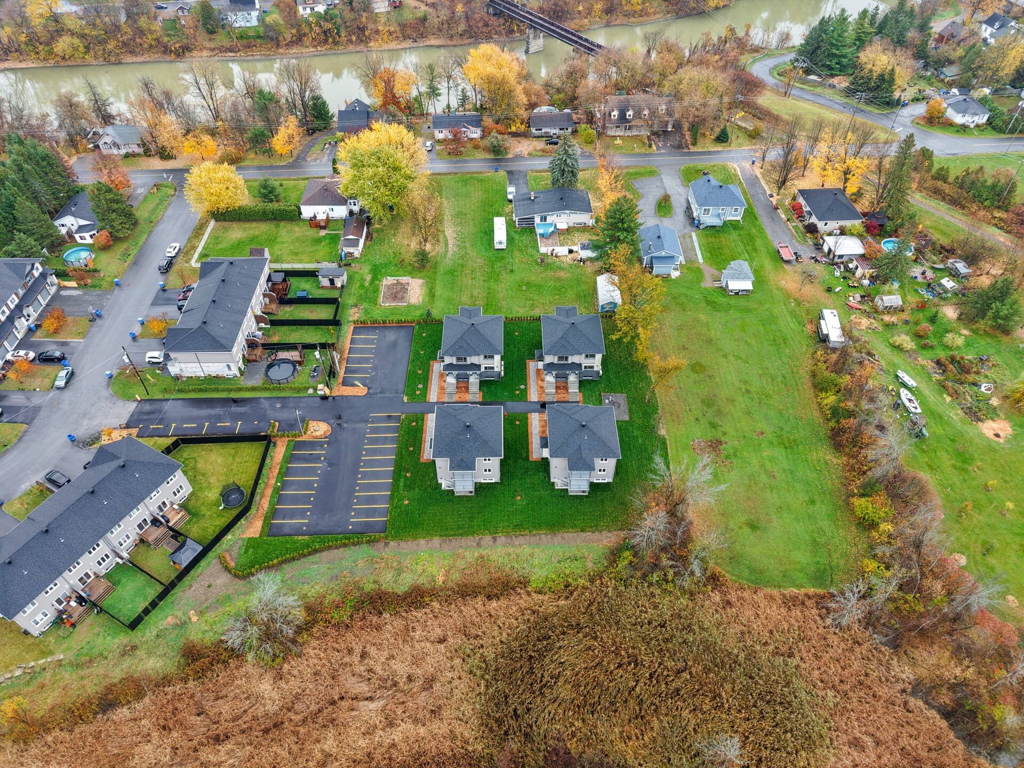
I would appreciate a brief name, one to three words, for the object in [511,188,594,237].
house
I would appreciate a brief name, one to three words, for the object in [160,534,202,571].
gazebo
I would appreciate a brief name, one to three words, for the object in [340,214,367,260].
building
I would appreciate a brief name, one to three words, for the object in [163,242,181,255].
vehicle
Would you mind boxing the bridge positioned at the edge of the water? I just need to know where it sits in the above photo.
[489,0,620,80]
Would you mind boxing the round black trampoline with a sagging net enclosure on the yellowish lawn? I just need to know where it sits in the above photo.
[214,480,246,509]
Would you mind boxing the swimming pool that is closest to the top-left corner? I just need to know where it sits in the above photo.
[59,245,95,269]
